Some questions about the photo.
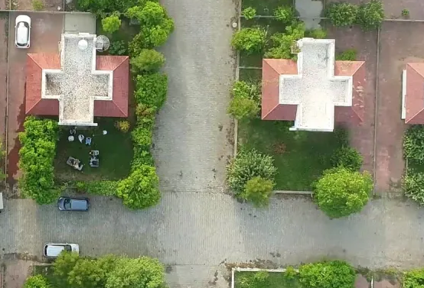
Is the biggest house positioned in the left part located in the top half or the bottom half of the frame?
top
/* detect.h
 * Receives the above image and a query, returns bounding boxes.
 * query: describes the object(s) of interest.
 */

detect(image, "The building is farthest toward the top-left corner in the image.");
[25,35,130,129]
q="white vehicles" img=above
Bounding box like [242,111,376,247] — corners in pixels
[43,241,79,257]
[14,16,31,48]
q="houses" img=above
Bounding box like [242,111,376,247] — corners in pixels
[260,39,365,134]
[400,62,424,124]
[25,35,130,129]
